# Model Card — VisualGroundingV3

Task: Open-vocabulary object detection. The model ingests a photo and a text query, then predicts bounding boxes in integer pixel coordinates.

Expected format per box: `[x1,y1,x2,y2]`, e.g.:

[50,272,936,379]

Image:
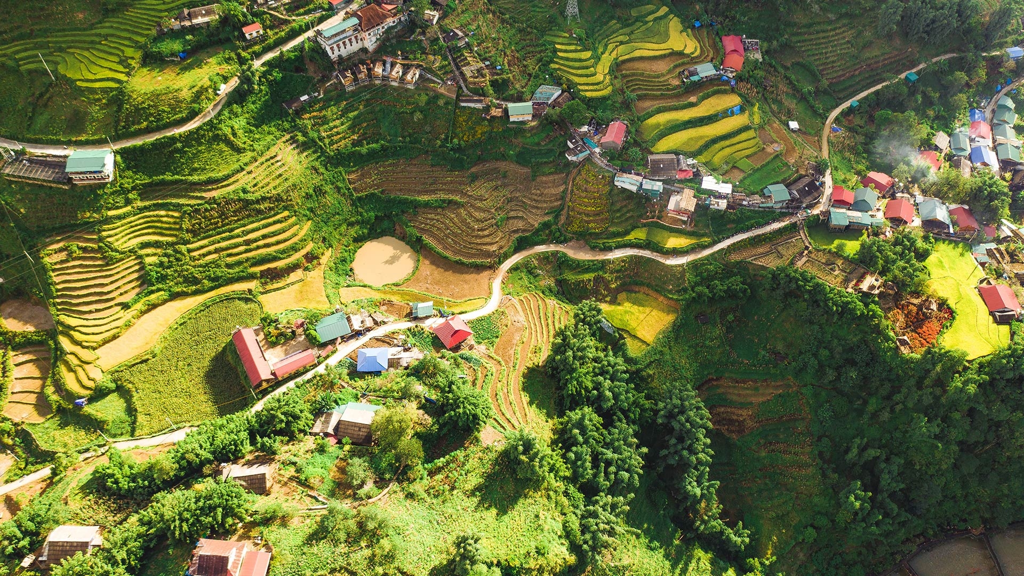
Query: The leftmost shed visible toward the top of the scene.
[0,156,71,196]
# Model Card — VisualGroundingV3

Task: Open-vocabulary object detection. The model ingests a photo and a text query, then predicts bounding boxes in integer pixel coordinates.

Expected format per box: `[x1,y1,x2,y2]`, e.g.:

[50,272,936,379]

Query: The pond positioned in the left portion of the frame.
[353,240,418,288]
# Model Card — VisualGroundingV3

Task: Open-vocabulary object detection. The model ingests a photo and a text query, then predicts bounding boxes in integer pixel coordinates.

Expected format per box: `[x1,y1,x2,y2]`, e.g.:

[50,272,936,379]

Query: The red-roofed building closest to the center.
[433,316,472,353]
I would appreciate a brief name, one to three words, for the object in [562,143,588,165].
house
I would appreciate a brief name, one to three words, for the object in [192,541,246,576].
house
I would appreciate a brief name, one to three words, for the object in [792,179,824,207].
building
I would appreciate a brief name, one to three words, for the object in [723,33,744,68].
building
